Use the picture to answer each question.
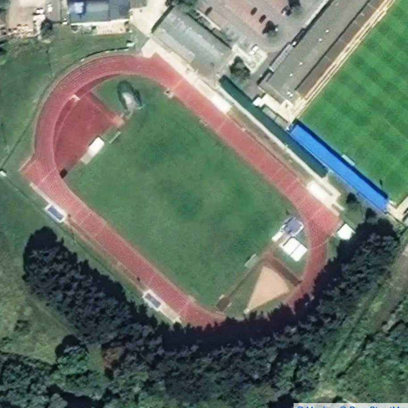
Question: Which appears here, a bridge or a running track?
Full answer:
There is a running track in the scene.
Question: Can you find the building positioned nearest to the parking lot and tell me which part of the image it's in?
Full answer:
The building positioned nearest to the parking lot sits in the top section of the image.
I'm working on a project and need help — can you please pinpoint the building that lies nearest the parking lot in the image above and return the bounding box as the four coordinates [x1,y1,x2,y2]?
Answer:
[155,4,233,73]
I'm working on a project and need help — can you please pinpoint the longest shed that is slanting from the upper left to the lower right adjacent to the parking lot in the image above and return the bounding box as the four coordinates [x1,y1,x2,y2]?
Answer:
[220,75,327,178]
